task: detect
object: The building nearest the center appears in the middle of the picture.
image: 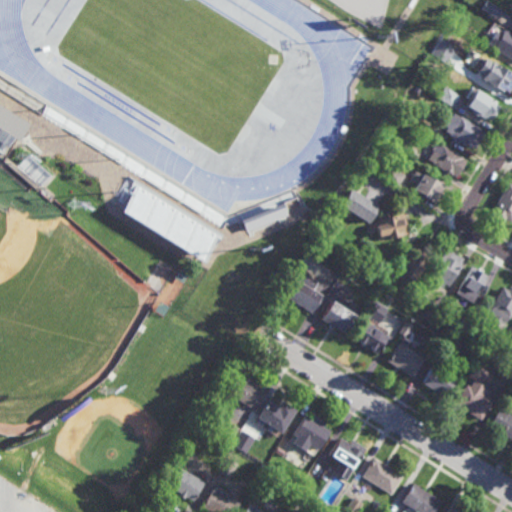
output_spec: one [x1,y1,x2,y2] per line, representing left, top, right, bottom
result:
[245,204,290,234]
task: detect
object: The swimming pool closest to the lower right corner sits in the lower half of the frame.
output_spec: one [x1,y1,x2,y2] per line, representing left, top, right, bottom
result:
[317,476,350,512]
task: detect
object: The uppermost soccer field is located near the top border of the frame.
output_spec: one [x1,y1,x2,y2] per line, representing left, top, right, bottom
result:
[60,0,282,154]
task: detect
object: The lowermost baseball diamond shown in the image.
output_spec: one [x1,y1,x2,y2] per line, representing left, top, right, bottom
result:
[54,396,163,491]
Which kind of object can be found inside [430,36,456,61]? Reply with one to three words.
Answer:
building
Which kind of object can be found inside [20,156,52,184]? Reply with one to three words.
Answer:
building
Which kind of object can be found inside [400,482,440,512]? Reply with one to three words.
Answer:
house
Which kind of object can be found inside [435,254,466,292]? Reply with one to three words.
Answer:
house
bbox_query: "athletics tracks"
[0,0,371,211]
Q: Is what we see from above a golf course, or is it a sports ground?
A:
sports ground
